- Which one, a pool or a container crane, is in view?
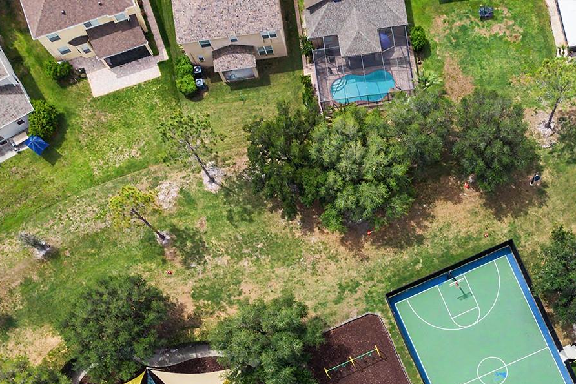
pool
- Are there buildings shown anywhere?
Yes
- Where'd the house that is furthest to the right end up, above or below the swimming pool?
above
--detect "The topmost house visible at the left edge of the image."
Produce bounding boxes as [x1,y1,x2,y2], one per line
[20,0,157,72]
